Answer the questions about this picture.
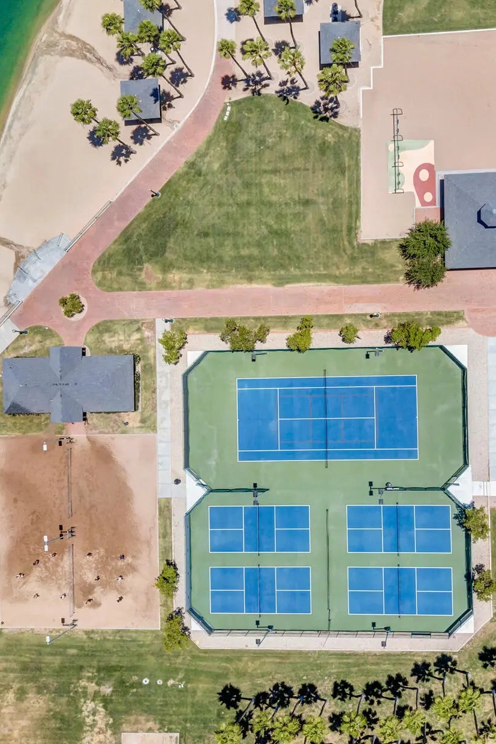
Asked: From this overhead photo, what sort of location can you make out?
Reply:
sports ground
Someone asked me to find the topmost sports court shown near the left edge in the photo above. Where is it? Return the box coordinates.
[0,434,159,533]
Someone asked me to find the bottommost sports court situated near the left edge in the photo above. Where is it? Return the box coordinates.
[0,533,160,631]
